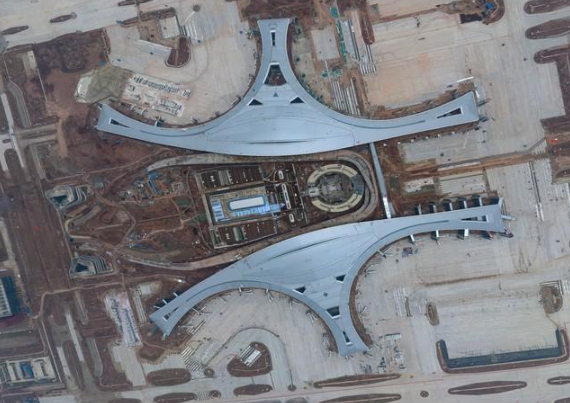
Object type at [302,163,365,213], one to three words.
building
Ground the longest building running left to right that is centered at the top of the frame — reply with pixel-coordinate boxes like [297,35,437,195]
[96,17,479,156]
